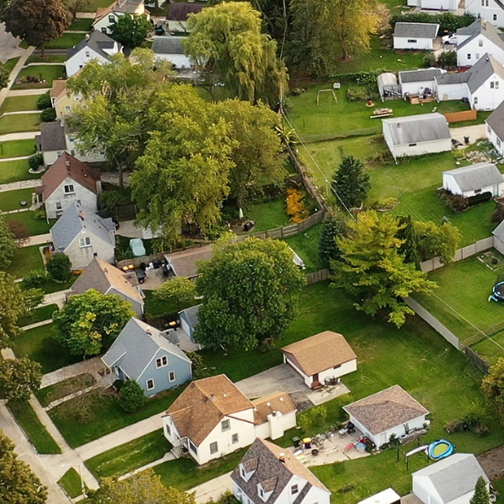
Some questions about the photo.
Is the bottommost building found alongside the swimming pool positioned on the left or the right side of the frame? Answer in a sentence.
The bottommost building found alongside the swimming pool appears in the right half of the scene.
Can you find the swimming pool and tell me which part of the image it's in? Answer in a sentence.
The swimming pool is in the bottom right part of the image.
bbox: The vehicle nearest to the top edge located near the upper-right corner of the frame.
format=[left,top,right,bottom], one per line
[435,31,457,46]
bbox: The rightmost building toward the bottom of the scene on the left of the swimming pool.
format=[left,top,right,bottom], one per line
[343,385,429,450]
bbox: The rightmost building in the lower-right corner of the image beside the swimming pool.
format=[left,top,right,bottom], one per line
[411,452,491,504]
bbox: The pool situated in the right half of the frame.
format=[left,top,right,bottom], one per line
[428,438,459,459]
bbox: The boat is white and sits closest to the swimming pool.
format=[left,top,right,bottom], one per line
[400,442,432,457]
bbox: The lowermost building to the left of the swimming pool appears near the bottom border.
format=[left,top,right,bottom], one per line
[234,436,334,504]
